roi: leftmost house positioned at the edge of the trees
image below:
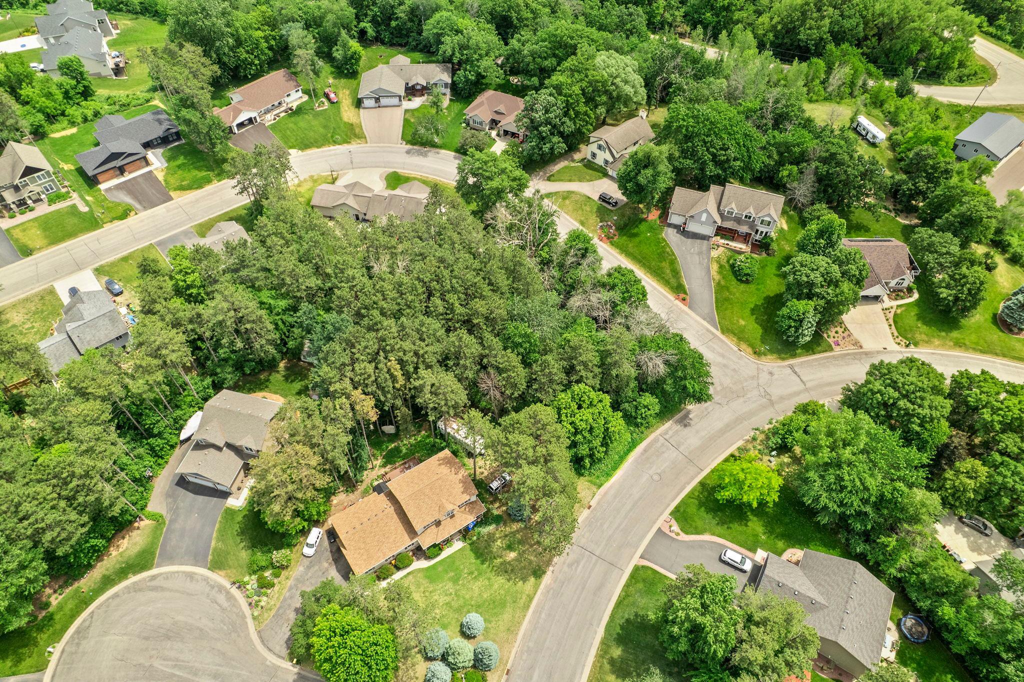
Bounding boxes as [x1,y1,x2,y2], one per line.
[0,143,62,213]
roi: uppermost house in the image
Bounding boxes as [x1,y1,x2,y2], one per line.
[35,0,122,49]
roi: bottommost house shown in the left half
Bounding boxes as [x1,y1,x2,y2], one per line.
[329,452,487,575]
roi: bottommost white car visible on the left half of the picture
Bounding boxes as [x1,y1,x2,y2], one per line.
[301,523,327,562]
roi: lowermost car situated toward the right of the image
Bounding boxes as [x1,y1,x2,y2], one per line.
[719,549,752,574]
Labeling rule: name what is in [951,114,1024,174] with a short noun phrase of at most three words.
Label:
barn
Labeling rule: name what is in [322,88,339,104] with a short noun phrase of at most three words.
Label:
vehicle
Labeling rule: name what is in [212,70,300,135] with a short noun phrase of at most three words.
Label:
house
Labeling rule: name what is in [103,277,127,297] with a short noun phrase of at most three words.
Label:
car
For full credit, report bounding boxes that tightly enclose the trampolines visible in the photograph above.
[897,609,938,646]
